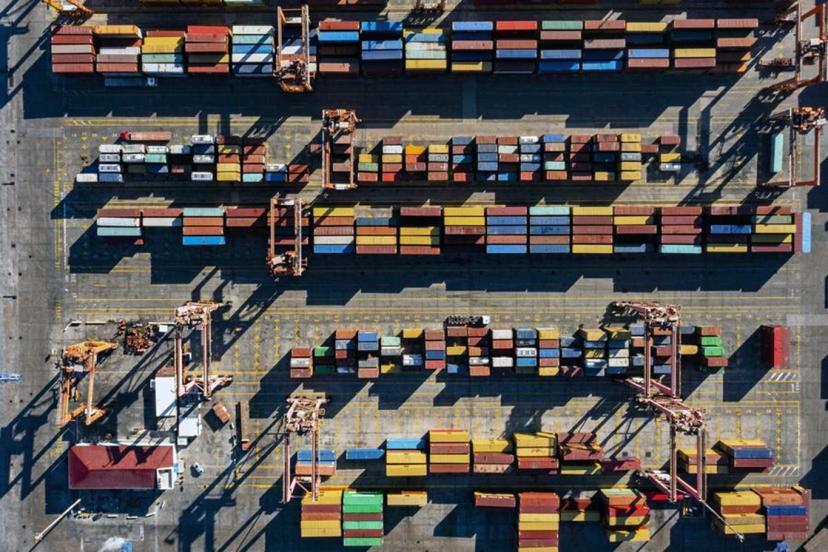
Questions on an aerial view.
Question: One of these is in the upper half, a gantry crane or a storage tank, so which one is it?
gantry crane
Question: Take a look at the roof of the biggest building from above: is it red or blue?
red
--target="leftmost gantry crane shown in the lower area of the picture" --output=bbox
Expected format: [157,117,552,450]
[49,334,132,426]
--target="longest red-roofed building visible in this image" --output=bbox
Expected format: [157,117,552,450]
[67,438,182,491]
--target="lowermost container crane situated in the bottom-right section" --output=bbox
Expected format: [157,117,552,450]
[640,397,716,504]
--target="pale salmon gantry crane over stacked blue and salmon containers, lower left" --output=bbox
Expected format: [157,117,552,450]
[282,398,332,504]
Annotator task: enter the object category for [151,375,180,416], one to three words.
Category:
building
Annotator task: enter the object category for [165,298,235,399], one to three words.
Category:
container crane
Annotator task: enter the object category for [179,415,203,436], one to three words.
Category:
building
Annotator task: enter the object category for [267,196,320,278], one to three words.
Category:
container crane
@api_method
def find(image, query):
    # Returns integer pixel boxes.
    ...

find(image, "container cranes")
[617,301,685,399]
[640,397,716,504]
[408,0,451,10]
[165,298,235,399]
[49,334,132,426]
[746,103,828,192]
[282,398,332,504]
[311,105,368,194]
[267,196,320,278]
[272,4,327,102]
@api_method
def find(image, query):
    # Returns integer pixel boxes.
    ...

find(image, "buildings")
[179,415,203,436]
[67,438,182,491]
[151,375,180,416]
